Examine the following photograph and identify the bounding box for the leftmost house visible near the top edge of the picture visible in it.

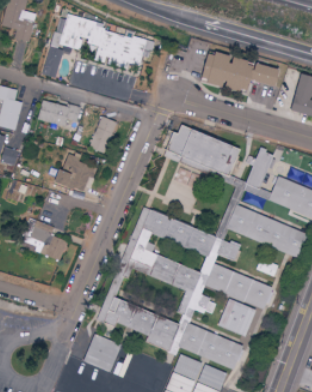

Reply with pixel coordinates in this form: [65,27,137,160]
[2,0,36,42]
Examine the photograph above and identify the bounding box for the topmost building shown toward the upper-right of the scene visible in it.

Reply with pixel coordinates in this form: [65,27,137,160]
[202,52,278,90]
